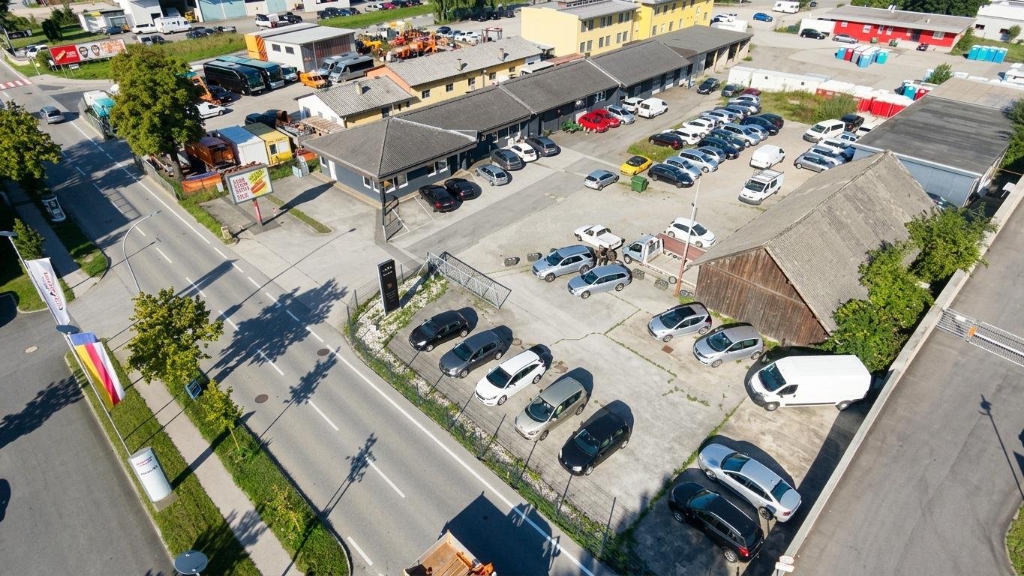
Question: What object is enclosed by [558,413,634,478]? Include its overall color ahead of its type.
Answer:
black car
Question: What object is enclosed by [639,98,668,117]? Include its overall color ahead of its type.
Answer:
white vehicle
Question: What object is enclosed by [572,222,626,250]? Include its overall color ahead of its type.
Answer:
white truck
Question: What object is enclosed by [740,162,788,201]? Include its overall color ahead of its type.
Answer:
white van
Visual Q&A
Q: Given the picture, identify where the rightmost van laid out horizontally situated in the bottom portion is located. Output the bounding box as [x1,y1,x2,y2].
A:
[746,356,872,411]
